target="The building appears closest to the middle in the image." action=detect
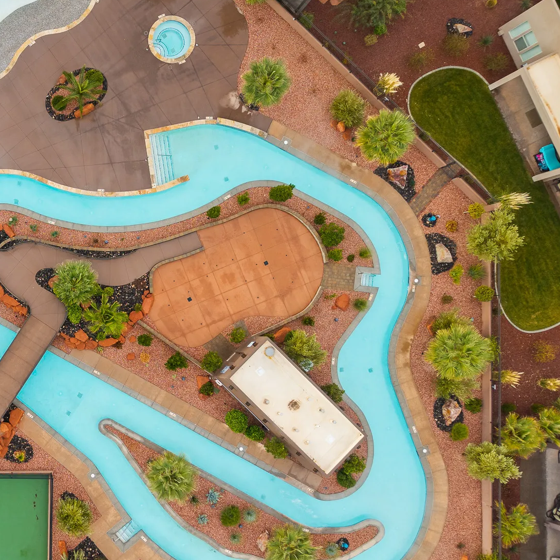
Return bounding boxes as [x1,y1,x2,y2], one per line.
[217,338,365,475]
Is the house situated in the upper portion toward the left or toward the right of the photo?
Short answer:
right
